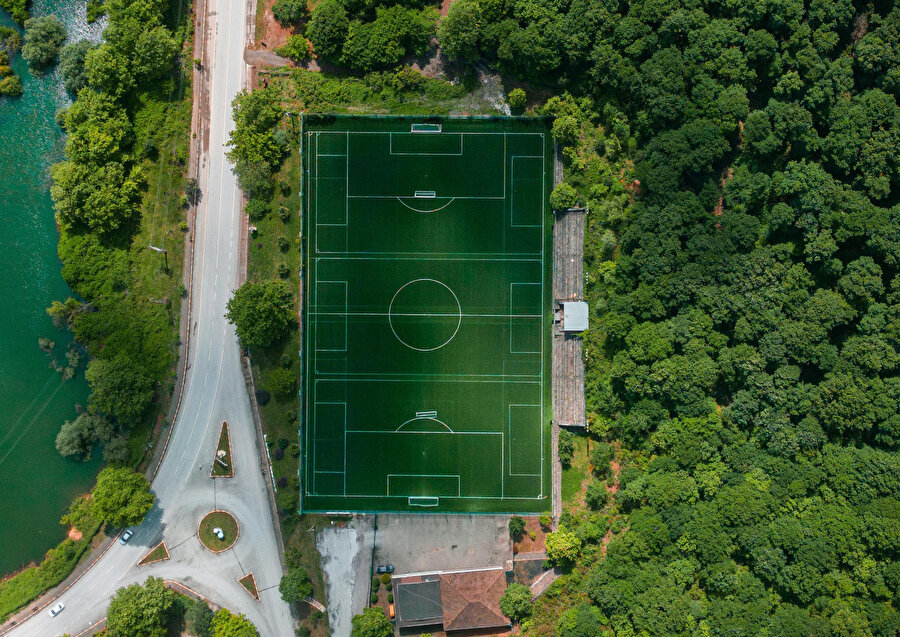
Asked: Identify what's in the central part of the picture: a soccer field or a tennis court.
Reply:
soccer field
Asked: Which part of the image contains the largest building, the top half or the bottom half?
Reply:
bottom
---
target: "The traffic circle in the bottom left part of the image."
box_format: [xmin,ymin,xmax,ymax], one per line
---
[197,510,239,553]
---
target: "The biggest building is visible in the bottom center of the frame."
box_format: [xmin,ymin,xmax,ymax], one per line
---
[392,566,513,635]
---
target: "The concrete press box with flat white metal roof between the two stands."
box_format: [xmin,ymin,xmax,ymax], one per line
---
[553,298,589,340]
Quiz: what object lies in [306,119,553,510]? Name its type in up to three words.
soccer field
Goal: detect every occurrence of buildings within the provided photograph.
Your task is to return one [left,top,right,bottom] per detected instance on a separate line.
[392,566,513,635]
[553,298,589,340]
